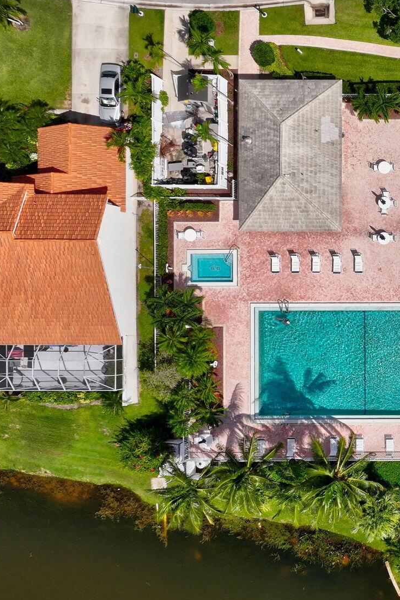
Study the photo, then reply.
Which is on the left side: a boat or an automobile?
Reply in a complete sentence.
The feature located on the left side is an automobile.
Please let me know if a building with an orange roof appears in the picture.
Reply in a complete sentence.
Yes, there is a building with an orange roof in the image.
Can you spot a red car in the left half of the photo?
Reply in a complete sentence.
No, I can find no red car in the left half of the photo.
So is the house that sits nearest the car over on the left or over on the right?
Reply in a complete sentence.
The house that sits nearest the car sits on the left side.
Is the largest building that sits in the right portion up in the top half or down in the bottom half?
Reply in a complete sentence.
You can find the largest building that sits in the right portion in the top half.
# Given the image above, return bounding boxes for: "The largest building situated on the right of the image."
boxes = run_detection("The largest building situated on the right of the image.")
[238,74,343,231]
